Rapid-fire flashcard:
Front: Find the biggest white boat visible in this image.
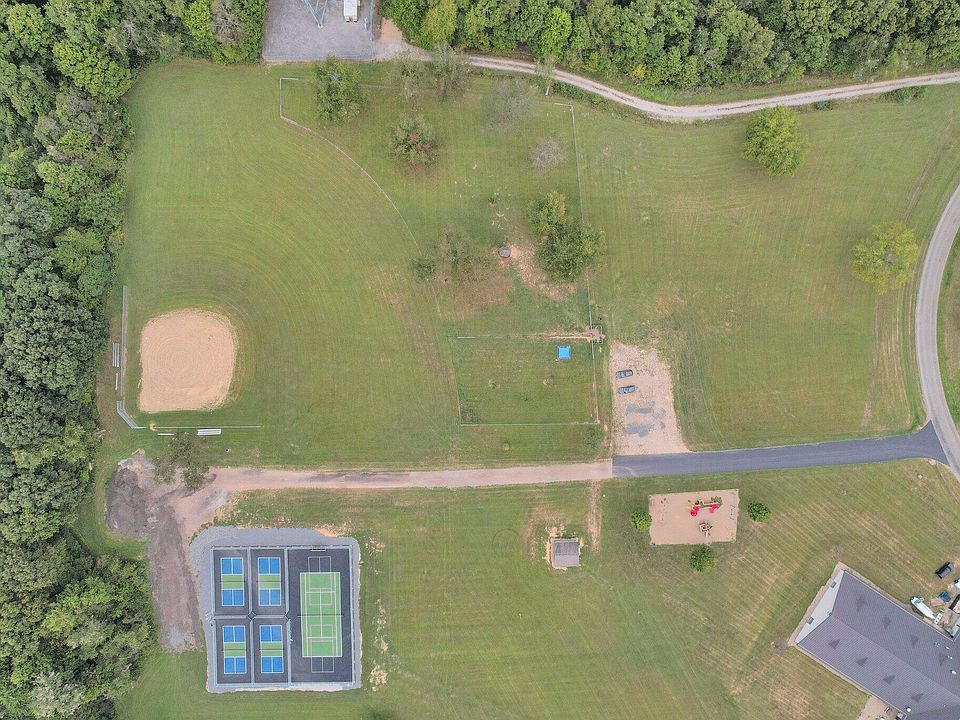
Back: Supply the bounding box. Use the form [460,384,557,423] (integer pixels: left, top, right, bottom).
[911,598,936,620]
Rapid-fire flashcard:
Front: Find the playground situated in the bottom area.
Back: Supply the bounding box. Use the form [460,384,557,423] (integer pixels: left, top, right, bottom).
[649,488,740,546]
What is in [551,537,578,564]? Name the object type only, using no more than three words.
shed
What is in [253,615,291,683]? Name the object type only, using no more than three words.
sports court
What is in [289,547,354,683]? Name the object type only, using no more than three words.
tennis court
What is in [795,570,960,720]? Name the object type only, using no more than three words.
building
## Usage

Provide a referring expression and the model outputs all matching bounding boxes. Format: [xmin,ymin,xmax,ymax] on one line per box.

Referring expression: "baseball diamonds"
[121,62,461,427]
